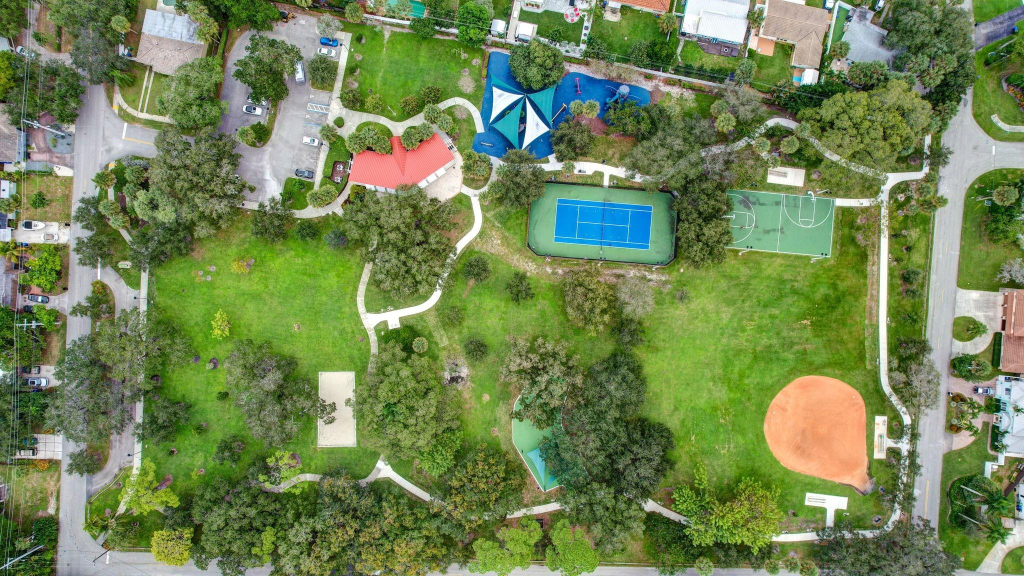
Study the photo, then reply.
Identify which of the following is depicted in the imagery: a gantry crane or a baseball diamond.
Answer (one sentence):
There is a baseball diamond in the scene.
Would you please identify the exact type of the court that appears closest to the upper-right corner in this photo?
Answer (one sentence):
The court that appears closest to the upper-right corner can be classified as a basketball court.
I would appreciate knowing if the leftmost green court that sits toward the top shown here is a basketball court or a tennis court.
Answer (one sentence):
From above, the leftmost green court that sits toward the top can be identified as a tennis court.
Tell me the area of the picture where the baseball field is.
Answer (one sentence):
The baseball field sits in the bottom right section of the image.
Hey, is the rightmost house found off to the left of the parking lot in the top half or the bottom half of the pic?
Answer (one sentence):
You can find the rightmost house found off to the left of the parking lot in the top half.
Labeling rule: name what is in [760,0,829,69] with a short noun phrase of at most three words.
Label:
house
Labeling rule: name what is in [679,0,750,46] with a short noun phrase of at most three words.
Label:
house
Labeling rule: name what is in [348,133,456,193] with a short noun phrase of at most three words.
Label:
building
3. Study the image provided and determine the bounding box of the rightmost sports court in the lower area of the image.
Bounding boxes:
[512,376,587,491]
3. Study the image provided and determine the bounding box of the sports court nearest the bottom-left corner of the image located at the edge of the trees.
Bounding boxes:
[317,371,356,447]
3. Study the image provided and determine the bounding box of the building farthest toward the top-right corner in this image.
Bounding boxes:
[840,7,903,71]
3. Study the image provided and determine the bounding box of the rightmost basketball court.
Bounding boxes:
[723,189,835,258]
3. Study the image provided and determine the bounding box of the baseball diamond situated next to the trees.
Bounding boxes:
[764,376,875,494]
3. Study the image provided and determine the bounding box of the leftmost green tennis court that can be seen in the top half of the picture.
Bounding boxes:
[528,181,680,265]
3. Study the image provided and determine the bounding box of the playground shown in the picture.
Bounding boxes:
[473,51,650,159]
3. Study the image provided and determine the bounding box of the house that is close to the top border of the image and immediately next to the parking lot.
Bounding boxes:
[136,9,207,75]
